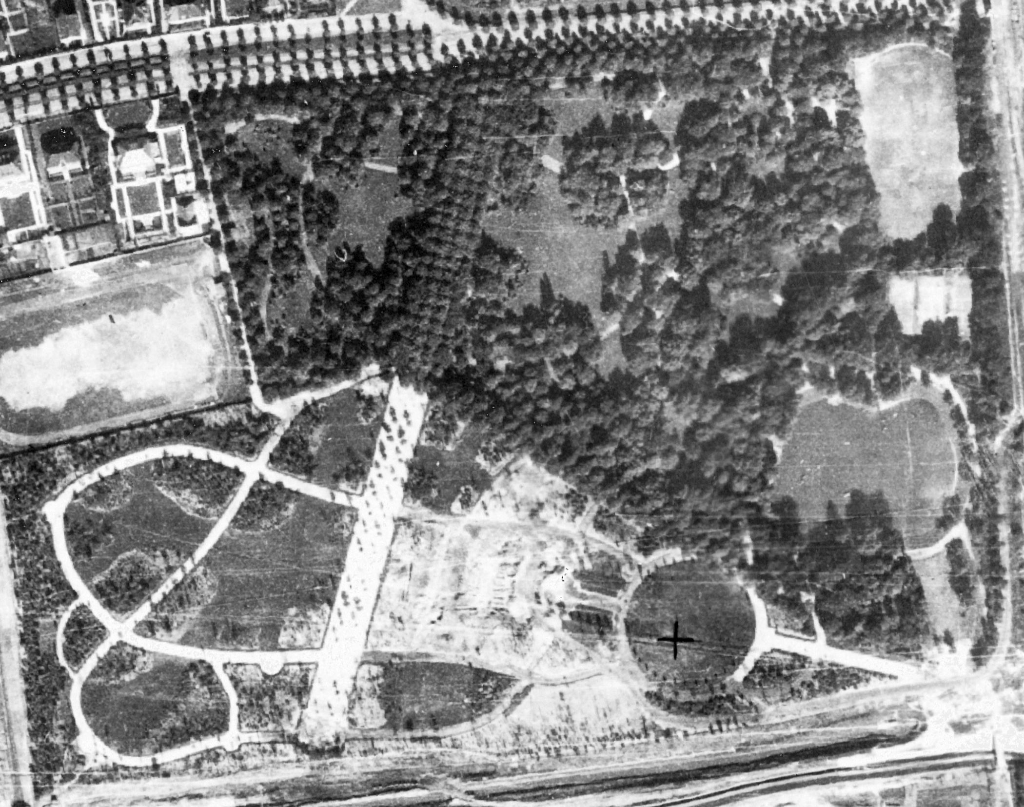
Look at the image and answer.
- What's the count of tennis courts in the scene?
1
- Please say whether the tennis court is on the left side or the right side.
right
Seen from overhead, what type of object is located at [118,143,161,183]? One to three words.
house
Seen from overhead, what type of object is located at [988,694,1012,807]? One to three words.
bridge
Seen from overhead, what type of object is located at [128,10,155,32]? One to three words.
house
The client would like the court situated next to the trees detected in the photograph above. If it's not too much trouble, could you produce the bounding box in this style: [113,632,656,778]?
[888,276,972,342]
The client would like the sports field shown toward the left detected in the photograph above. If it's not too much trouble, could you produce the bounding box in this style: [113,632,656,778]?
[0,234,252,455]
